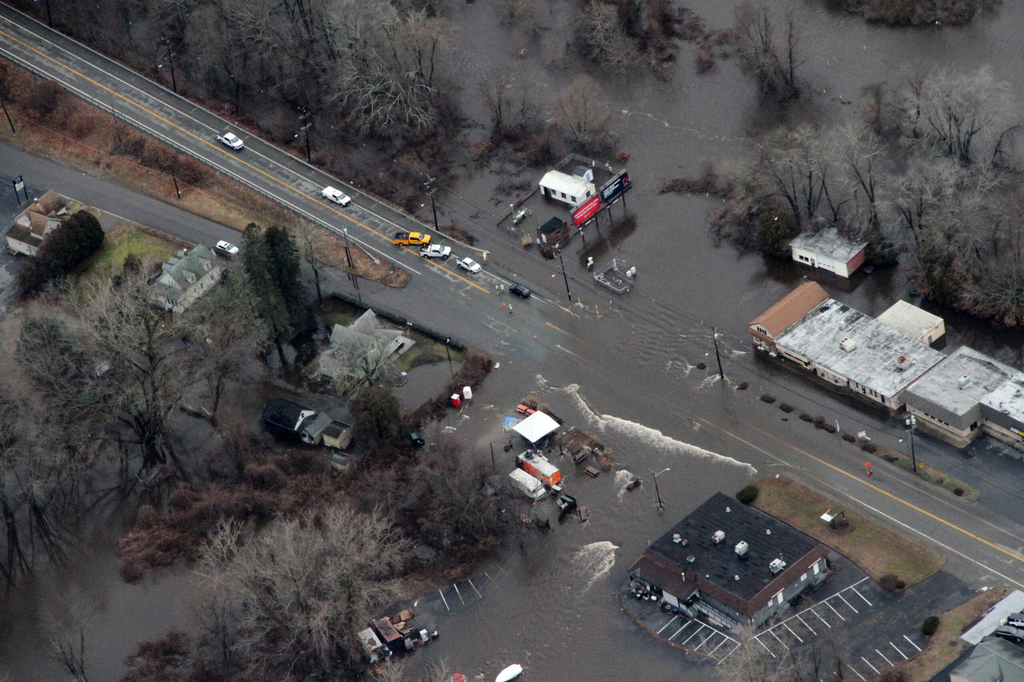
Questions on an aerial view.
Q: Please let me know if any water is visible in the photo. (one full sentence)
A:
Yes, the picture does contain water.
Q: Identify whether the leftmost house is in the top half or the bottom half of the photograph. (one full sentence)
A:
The leftmost house sits in the top half of the picture.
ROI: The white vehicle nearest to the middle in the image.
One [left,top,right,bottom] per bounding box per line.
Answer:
[453,255,481,274]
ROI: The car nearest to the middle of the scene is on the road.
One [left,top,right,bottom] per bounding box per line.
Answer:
[506,283,532,299]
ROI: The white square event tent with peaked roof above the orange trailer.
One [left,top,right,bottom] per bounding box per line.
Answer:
[513,412,561,453]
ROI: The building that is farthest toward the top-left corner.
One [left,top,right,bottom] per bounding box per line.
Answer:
[4,182,90,258]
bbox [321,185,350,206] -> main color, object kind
white truck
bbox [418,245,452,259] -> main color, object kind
white vehicle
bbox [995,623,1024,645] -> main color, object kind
gray car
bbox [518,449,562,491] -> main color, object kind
white trailer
